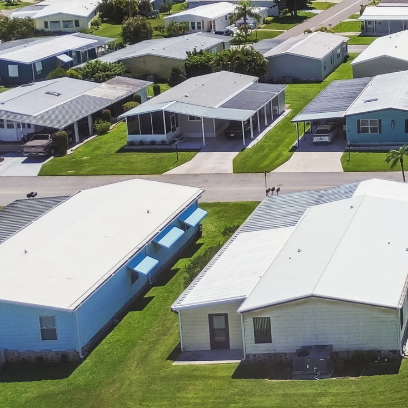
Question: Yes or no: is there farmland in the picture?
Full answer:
No, no farmland is visible.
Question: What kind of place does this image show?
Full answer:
It's a residential area.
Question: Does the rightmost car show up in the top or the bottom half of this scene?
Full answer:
The rightmost car is in the top half of the image.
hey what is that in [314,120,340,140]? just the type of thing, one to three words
car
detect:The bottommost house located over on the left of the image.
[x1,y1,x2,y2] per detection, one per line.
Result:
[0,180,209,358]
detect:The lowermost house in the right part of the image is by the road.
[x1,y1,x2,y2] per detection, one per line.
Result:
[159,175,408,365]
